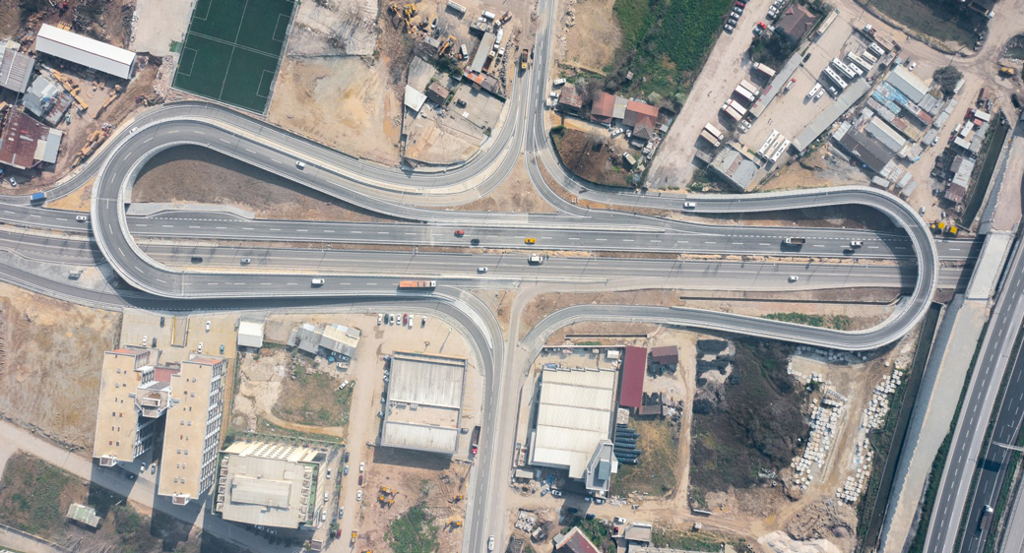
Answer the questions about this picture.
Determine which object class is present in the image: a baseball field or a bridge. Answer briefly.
bridge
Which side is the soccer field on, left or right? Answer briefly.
left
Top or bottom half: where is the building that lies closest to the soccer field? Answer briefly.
top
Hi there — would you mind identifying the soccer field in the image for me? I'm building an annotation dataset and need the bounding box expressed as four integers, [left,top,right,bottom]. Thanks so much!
[170,0,298,117]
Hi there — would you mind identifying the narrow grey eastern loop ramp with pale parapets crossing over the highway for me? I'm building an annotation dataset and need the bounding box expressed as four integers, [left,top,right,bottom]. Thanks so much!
[588,183,939,353]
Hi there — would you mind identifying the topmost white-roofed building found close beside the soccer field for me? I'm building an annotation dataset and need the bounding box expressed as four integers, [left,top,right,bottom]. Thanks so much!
[35,23,141,81]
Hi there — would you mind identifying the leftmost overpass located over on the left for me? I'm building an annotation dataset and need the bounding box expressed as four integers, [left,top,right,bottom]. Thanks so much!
[90,118,479,300]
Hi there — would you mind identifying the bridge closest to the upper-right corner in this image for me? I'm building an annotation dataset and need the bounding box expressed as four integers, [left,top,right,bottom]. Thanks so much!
[964,225,1014,307]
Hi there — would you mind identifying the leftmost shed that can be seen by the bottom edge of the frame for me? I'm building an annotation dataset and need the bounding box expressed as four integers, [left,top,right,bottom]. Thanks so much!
[66,502,99,528]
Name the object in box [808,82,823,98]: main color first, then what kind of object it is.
white vehicle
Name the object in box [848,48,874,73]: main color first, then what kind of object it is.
white bus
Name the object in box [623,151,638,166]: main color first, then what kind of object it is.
white vehicle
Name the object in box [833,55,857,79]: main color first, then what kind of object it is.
white bus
